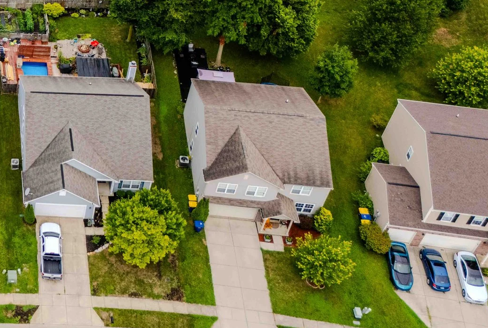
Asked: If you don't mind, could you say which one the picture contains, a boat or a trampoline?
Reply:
trampoline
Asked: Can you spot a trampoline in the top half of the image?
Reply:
Yes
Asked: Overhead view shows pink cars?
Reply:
No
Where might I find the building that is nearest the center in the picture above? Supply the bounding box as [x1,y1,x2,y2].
[181,77,333,238]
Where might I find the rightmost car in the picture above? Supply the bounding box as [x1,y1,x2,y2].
[453,253,488,303]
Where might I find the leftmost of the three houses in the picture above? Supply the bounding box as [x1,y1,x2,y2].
[17,59,156,222]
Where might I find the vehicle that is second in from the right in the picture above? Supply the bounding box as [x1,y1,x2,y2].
[416,248,452,295]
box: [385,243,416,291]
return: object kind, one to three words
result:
car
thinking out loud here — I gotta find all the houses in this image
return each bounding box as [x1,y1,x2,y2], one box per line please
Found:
[17,59,156,222]
[365,99,488,269]
[181,77,333,238]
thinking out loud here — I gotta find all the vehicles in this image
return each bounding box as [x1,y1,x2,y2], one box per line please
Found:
[385,243,416,291]
[39,224,63,281]
[416,248,452,295]
[453,253,488,303]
